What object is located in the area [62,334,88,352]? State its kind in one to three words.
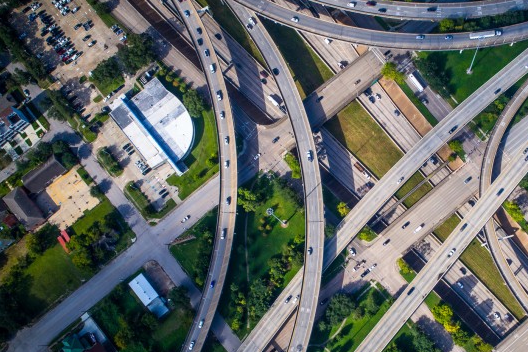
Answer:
house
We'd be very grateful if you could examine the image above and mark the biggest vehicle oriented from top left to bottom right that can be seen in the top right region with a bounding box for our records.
[410,74,426,90]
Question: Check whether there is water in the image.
No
